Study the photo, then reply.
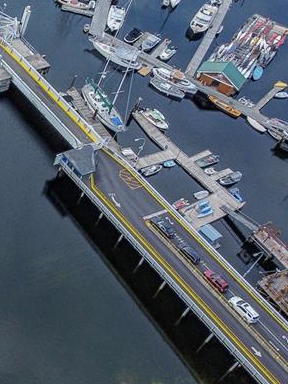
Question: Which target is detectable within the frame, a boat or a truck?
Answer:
boat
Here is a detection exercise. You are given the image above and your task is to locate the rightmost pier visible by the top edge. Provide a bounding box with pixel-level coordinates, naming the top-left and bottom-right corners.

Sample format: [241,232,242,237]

[217,14,286,87]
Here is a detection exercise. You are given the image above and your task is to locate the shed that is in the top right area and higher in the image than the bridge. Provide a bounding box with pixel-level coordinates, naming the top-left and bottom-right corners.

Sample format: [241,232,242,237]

[199,53,249,96]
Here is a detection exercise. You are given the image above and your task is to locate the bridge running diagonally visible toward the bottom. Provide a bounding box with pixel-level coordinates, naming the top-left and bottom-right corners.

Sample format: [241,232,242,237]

[52,146,288,384]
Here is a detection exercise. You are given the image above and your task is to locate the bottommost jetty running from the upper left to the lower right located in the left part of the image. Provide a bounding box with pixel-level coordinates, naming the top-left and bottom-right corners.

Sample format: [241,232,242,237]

[68,90,121,155]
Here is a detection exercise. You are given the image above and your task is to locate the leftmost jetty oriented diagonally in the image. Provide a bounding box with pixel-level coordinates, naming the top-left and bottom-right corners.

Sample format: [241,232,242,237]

[0,38,50,75]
